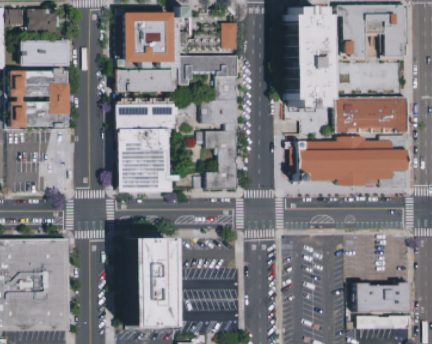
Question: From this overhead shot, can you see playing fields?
No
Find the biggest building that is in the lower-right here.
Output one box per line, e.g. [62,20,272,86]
[352,282,412,311]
